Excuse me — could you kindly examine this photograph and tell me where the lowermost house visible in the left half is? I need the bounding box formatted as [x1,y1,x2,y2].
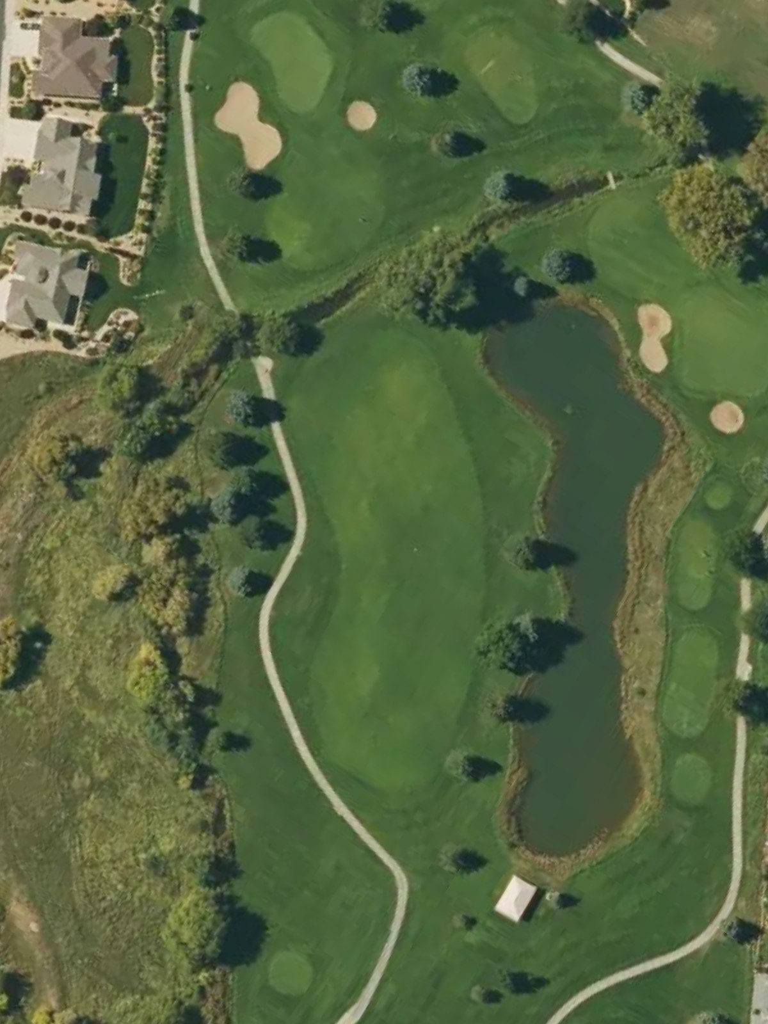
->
[5,240,88,328]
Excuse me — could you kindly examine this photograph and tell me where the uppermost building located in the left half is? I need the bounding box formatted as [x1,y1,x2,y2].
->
[30,15,117,97]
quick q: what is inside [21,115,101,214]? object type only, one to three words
house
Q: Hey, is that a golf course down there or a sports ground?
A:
golf course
